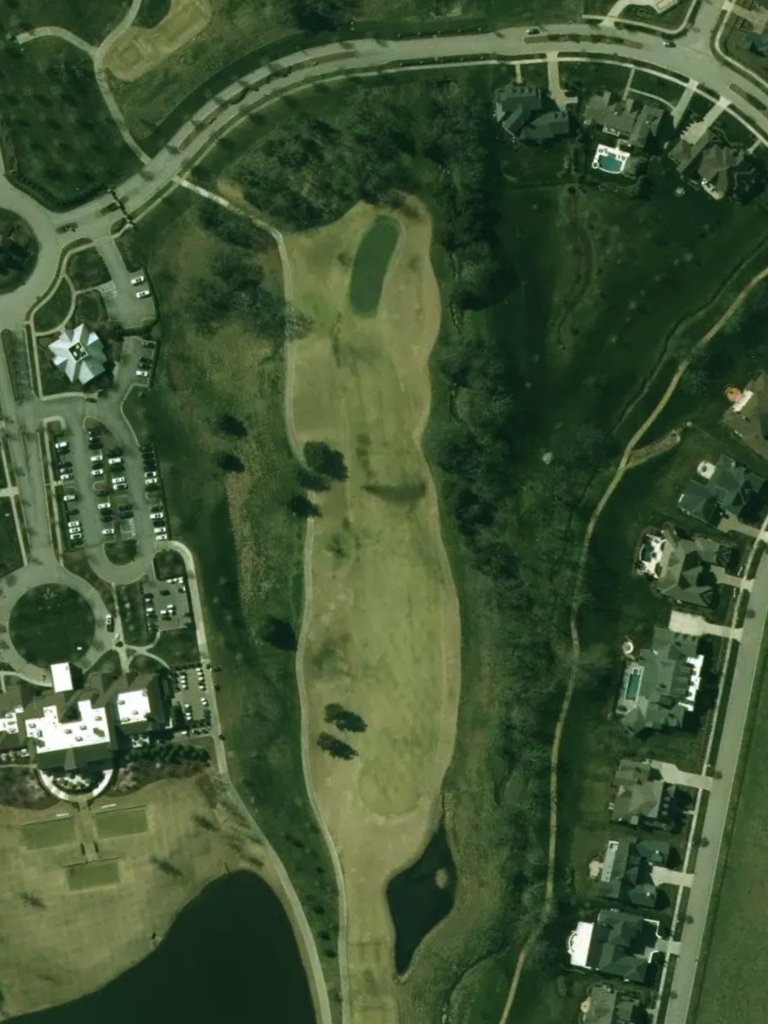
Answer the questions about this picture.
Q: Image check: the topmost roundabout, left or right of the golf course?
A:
to the left of it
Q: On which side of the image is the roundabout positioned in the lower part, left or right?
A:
left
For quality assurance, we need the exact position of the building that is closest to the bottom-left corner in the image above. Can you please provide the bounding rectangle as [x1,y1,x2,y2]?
[0,663,170,770]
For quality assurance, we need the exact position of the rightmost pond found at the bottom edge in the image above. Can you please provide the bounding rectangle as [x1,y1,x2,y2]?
[389,825,456,973]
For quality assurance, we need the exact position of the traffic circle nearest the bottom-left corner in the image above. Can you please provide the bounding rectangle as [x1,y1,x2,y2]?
[0,562,113,690]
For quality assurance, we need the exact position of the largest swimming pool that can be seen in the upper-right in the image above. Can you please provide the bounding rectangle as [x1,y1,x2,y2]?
[597,154,624,173]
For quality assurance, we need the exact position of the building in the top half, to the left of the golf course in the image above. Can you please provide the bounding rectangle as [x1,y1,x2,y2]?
[48,322,107,384]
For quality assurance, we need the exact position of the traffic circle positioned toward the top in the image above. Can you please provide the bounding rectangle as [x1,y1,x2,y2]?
[0,147,62,328]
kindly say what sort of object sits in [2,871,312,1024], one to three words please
pond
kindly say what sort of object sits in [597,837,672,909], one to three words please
house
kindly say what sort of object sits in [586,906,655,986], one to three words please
house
